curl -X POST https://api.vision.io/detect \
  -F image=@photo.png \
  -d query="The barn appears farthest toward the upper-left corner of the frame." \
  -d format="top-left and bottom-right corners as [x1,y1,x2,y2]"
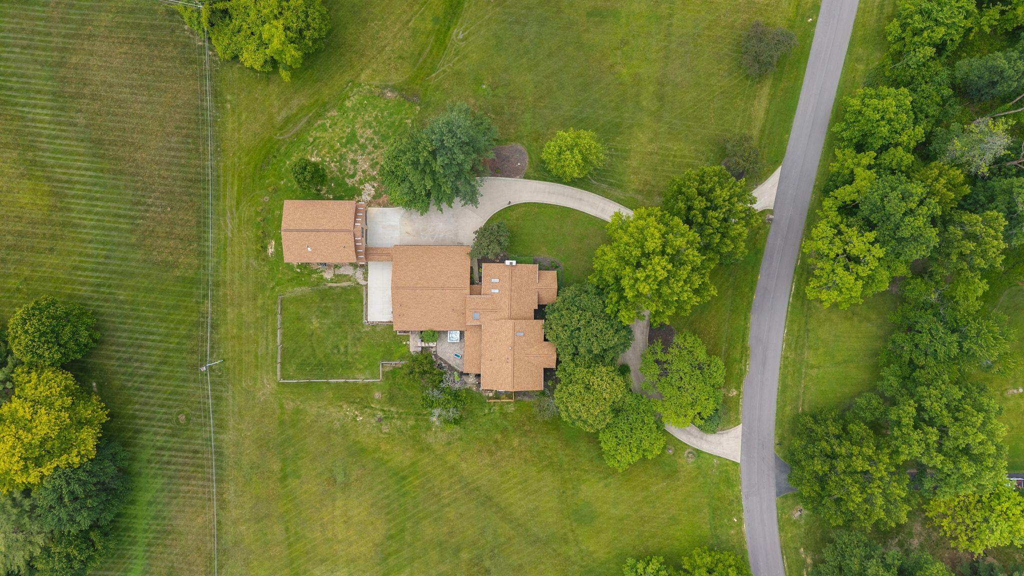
[280,200,371,264]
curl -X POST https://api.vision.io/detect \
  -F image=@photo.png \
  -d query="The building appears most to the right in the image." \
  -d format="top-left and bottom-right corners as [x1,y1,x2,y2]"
[392,245,557,391]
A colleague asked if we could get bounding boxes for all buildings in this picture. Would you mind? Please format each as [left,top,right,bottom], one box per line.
[280,200,371,264]
[392,245,557,391]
